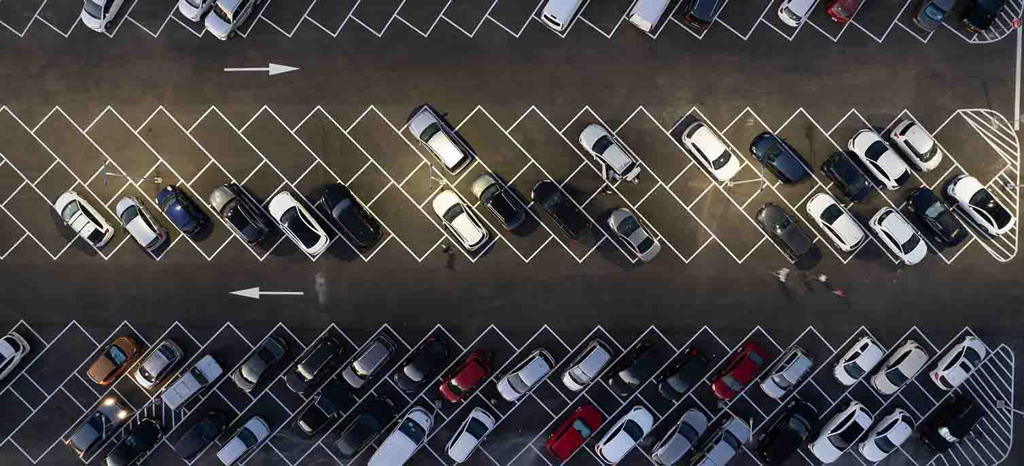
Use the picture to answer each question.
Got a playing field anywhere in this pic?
No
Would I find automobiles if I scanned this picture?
Yes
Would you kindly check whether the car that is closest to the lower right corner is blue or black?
black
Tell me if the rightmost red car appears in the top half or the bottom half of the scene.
top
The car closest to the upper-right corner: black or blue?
black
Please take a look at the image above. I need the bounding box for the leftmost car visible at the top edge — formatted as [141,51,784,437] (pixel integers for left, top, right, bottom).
[83,0,131,34]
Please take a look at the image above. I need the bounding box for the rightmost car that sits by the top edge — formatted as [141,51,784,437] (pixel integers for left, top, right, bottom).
[961,0,1011,36]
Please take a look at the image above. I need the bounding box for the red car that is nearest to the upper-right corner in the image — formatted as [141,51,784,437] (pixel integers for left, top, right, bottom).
[827,0,869,26]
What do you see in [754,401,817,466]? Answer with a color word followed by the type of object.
black car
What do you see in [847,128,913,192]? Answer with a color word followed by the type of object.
white car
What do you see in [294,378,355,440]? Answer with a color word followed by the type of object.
black truck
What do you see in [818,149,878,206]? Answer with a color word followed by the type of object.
black car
